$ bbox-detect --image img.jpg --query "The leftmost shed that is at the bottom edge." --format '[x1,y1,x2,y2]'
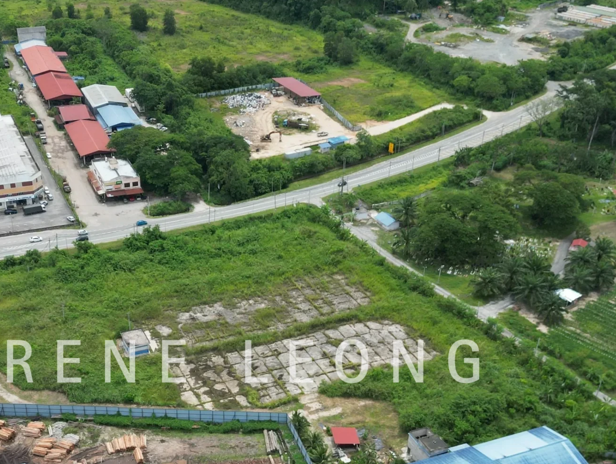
[332,425,359,453]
